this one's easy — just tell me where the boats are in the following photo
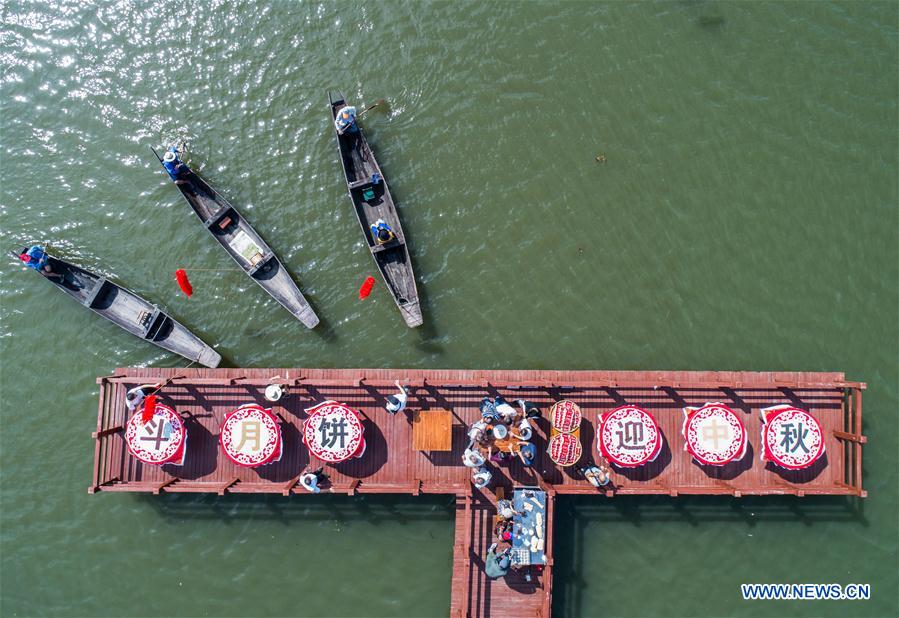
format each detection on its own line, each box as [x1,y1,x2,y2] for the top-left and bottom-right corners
[5,241,222,368]
[325,86,424,328]
[146,138,321,329]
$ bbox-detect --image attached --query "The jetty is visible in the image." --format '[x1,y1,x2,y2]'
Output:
[88,368,867,618]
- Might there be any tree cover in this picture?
No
